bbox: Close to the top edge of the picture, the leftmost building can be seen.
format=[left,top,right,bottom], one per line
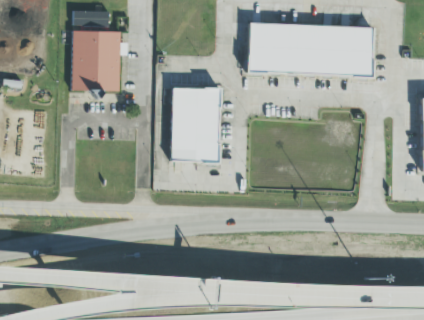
[70,12,129,98]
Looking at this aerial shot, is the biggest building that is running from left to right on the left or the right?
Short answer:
right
